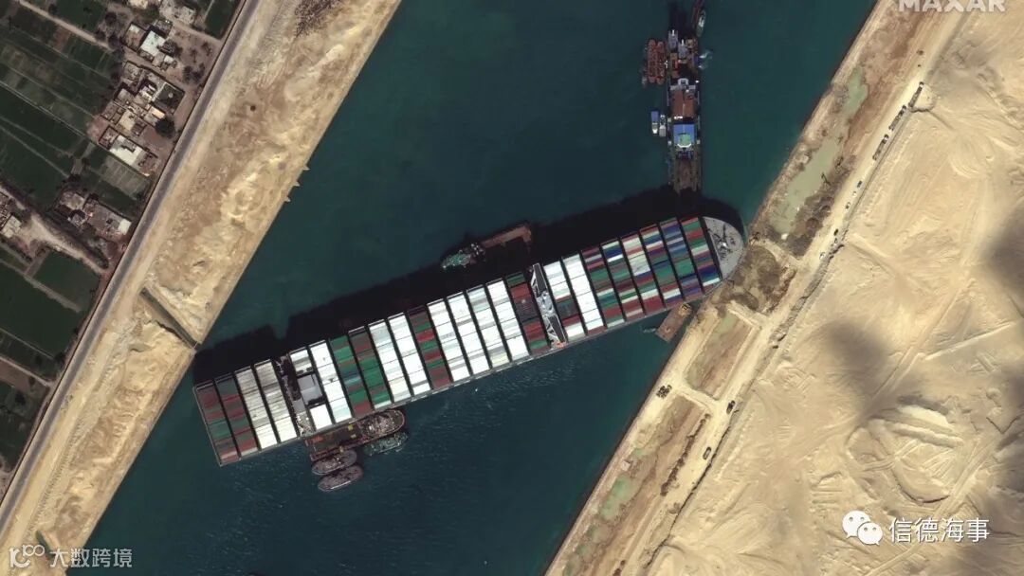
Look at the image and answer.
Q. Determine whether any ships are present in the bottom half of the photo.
Yes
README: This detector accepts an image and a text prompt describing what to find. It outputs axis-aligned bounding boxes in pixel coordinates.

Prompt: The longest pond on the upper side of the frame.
[772,135,845,234]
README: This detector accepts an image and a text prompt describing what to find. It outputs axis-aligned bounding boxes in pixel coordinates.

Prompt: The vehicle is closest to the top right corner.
[910,82,923,107]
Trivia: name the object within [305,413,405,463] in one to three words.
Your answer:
ship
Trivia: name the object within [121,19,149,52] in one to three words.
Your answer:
house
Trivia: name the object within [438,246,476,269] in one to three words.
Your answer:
boat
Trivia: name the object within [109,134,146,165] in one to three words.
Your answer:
house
